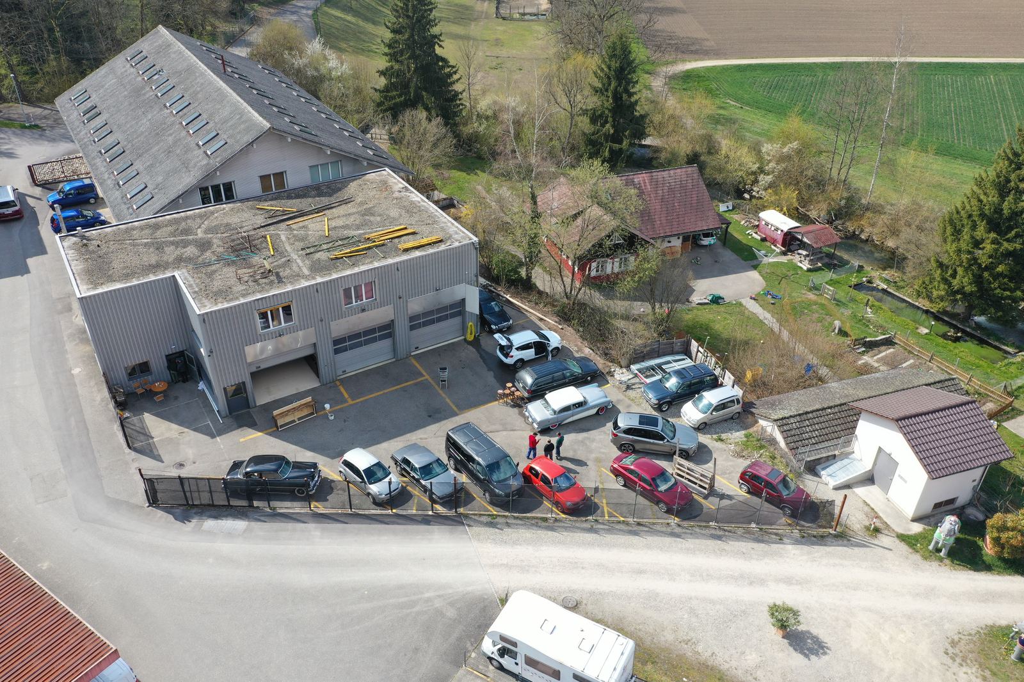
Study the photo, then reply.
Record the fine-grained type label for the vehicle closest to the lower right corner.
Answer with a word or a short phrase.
car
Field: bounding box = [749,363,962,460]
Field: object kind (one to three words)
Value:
shed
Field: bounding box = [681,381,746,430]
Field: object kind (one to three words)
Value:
car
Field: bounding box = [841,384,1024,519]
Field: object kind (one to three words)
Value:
house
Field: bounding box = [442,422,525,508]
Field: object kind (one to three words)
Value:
van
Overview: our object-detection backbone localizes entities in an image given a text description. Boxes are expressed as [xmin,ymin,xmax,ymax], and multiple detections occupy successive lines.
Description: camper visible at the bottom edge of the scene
[475,587,641,682]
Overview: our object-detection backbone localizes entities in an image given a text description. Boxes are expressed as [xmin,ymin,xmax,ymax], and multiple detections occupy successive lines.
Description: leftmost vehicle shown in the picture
[0,183,31,217]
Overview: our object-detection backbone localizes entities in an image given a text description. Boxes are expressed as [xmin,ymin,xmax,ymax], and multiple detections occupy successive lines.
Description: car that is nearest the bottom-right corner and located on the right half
[734,453,817,517]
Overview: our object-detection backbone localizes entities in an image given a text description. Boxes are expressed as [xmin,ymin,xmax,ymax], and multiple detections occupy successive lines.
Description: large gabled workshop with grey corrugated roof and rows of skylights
[54,22,417,224]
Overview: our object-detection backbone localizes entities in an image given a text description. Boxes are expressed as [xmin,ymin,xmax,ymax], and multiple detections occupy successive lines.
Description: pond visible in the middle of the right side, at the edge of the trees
[849,286,1024,370]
